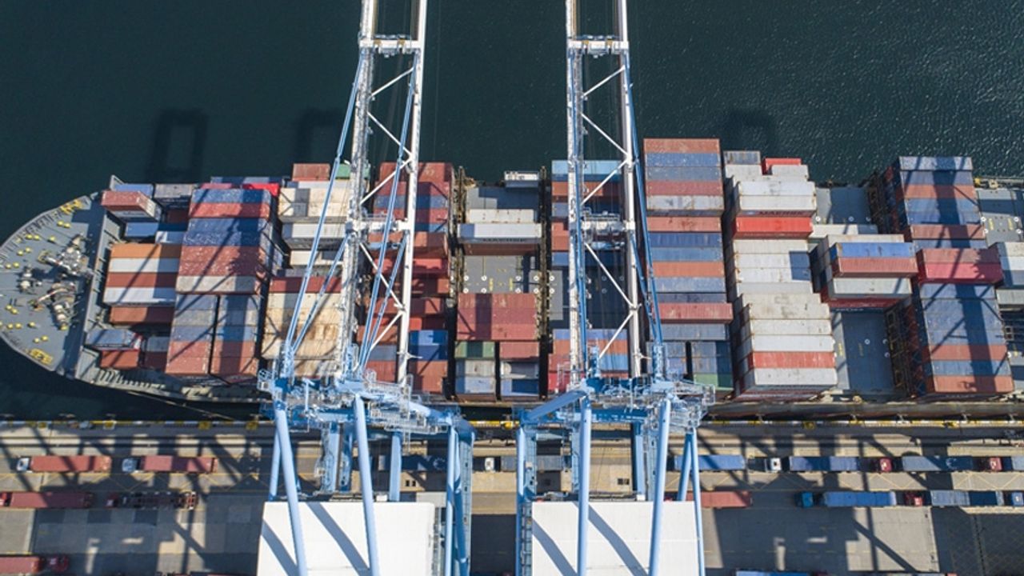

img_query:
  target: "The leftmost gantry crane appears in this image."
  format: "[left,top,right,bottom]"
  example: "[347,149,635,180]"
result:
[238,0,495,576]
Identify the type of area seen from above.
port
